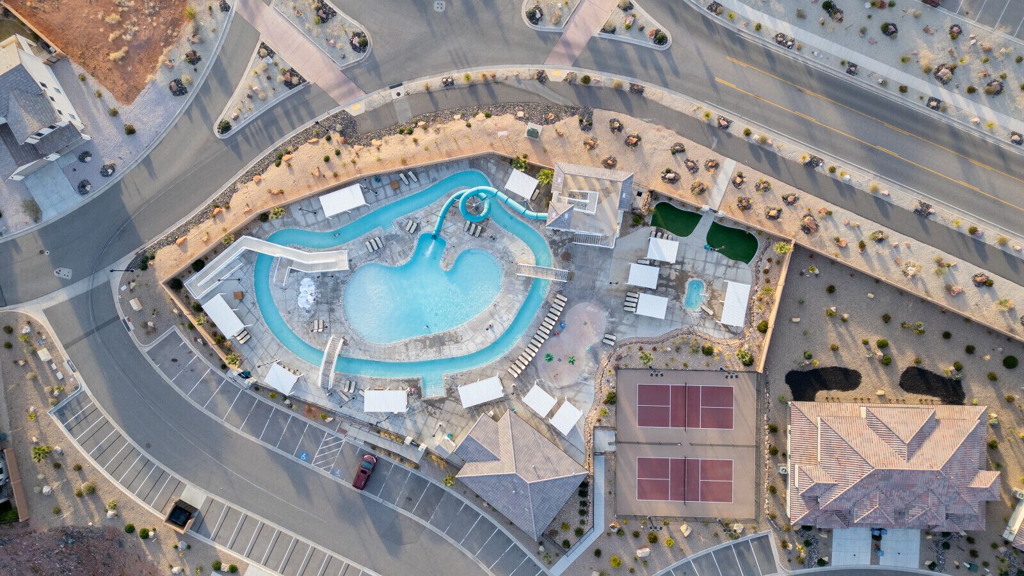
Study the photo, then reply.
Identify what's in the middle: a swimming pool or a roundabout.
swimming pool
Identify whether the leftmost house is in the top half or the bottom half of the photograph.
top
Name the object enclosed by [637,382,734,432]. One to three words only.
sports court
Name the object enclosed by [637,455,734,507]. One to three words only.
sports court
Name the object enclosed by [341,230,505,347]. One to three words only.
swimming pool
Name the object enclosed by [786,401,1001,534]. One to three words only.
house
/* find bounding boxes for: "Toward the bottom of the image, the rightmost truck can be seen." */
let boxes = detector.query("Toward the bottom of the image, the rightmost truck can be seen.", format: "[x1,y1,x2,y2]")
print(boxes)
[348,452,378,495]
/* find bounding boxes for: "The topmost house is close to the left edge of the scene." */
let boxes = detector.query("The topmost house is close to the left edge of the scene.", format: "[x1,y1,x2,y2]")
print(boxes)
[0,32,90,183]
